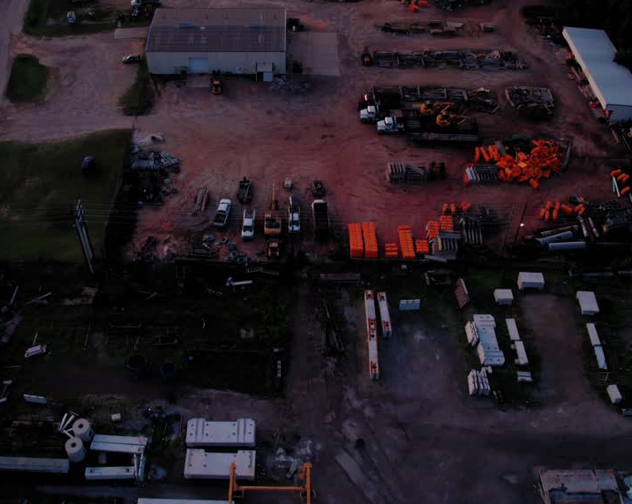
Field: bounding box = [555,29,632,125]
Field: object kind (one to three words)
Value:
shed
